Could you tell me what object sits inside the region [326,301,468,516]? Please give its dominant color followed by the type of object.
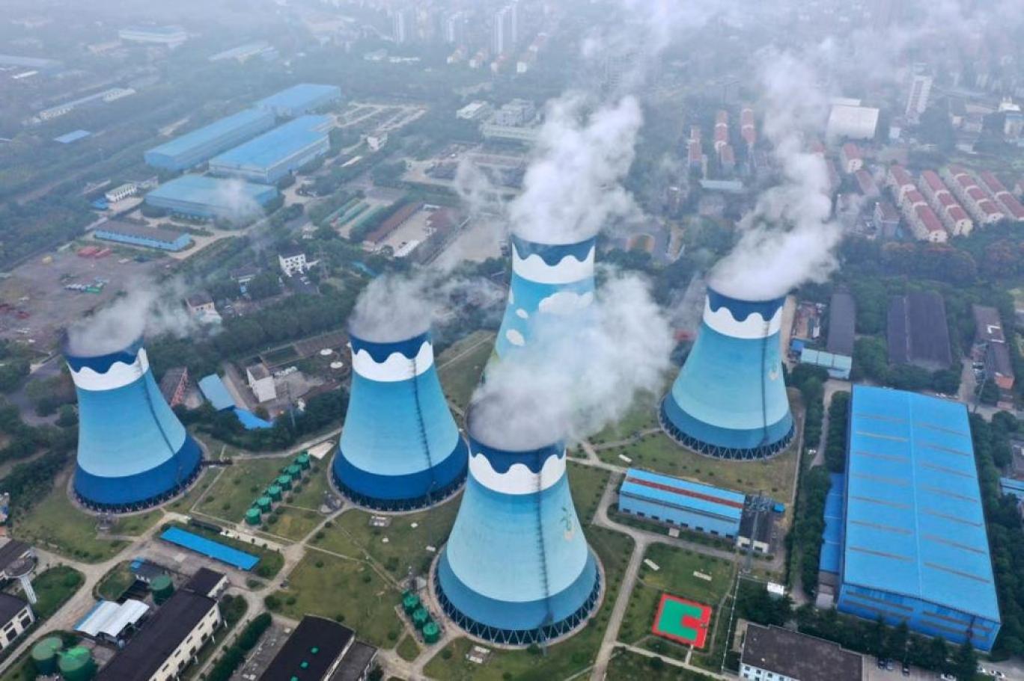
blue cooling tower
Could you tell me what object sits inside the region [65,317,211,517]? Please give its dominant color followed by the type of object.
blue cooling tower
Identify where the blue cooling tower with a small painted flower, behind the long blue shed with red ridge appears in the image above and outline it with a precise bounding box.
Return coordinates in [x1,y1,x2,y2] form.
[656,265,799,463]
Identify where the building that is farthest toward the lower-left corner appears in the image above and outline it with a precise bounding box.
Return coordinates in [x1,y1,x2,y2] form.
[0,599,30,647]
